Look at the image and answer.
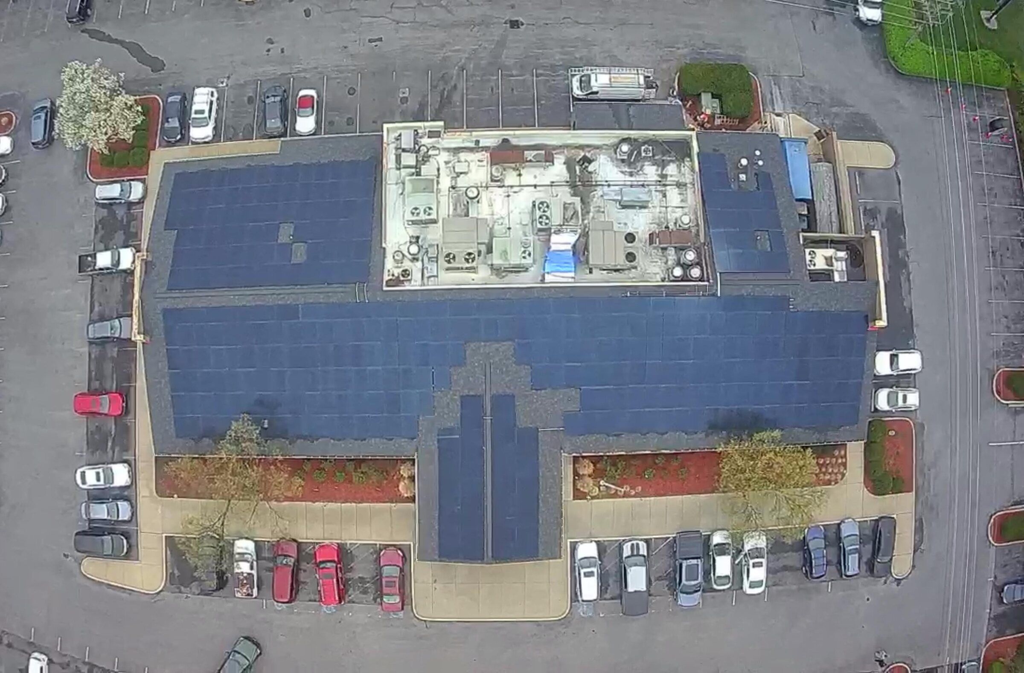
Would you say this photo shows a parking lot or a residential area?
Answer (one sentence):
It's a parking lot.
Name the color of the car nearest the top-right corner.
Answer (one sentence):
In this view, the car nearest the top-right corner is white.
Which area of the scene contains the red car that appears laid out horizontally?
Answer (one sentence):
Look in the left portion of the view to spot the red car that appears laid out horizontally.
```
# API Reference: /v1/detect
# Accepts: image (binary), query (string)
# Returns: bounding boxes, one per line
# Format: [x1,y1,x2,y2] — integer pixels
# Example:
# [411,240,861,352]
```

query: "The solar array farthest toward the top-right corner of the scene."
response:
[701,152,789,271]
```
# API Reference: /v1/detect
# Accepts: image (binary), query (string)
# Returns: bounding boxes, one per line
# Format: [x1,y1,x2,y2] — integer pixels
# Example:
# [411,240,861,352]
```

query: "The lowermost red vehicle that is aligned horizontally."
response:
[71,391,129,417]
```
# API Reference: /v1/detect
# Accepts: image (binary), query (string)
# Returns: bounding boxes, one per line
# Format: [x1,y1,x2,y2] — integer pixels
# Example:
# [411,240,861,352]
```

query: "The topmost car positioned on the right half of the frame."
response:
[854,0,885,26]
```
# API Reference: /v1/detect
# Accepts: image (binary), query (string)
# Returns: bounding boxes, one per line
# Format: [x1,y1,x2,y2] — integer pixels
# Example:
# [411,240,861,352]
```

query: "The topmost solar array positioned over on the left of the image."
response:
[164,158,376,289]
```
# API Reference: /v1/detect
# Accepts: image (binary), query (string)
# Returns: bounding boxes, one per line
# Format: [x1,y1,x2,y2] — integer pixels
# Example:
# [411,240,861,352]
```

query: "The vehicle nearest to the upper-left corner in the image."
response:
[63,0,94,26]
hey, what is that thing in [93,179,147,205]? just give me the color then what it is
white car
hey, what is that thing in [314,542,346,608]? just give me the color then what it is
red car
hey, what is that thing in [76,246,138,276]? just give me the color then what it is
white vehicle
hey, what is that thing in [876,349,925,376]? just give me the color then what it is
white car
